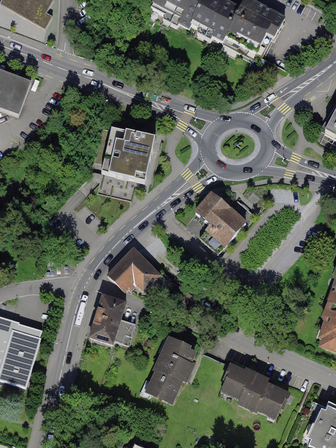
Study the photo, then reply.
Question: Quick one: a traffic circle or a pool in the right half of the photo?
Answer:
traffic circle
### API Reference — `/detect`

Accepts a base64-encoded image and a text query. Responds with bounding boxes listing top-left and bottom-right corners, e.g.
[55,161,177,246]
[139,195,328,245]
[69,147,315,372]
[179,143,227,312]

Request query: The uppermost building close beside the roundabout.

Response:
[150,0,288,59]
